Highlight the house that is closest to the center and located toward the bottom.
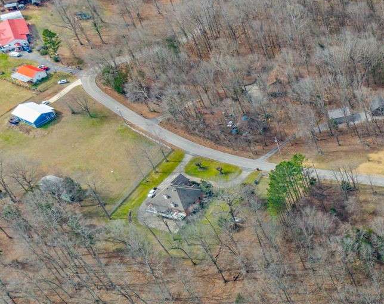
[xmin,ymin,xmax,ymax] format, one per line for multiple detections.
[145,170,215,222]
